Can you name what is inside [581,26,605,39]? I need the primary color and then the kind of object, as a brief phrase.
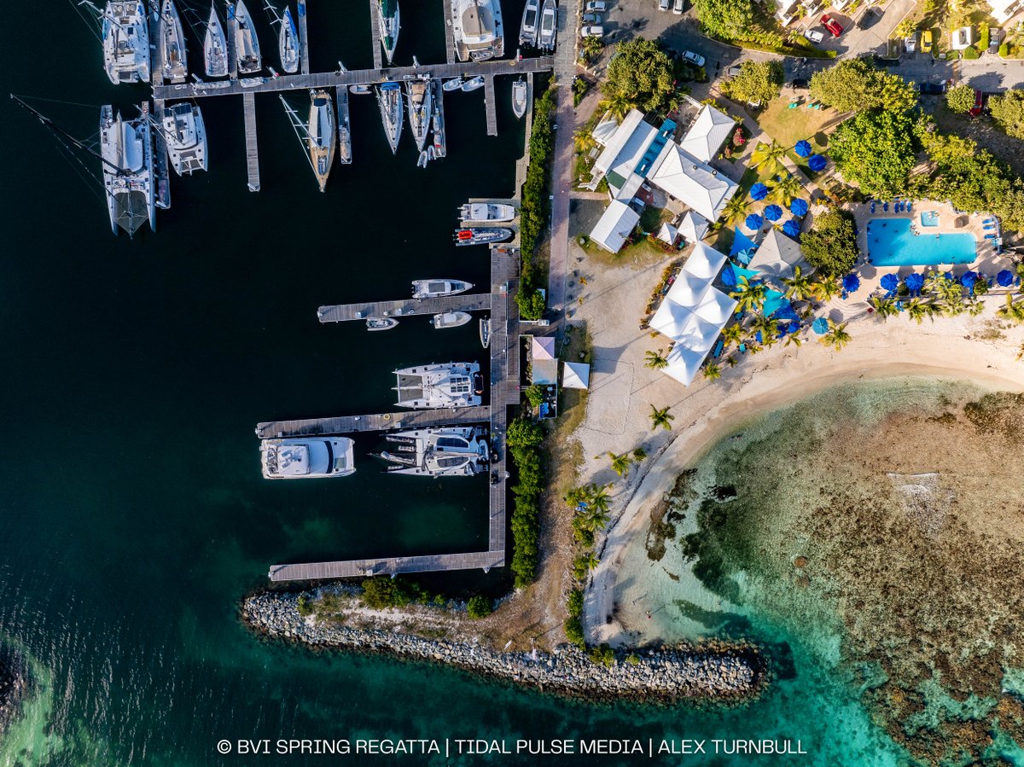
white vehicle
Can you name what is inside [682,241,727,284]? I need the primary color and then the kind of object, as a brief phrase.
white tent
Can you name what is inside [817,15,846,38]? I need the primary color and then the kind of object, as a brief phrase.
red truck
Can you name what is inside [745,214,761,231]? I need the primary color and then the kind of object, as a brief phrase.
blue umbrella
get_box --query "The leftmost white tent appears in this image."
[563,362,590,389]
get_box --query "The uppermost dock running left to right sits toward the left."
[153,50,555,100]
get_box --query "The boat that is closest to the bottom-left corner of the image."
[260,437,356,480]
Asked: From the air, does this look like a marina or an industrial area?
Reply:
marina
